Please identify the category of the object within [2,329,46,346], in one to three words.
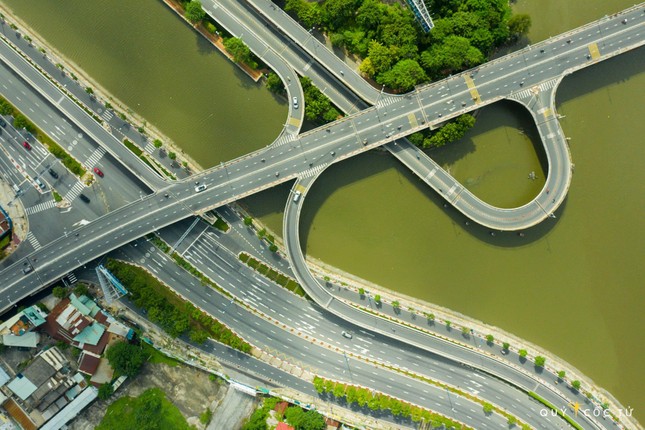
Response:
house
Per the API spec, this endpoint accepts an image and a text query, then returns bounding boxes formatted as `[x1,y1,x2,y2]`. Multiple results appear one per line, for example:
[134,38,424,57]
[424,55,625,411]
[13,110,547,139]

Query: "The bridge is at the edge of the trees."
[0,3,645,312]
